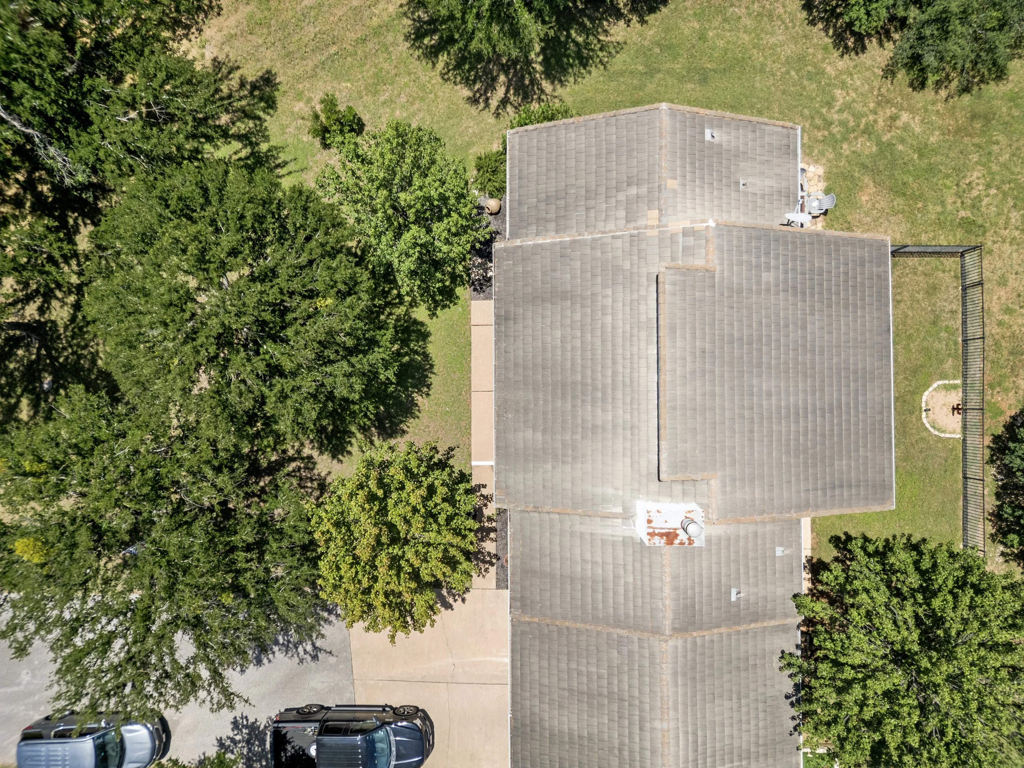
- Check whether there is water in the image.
No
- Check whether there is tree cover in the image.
Yes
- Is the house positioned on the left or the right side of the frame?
right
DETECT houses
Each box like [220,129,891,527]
[492,103,896,768]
